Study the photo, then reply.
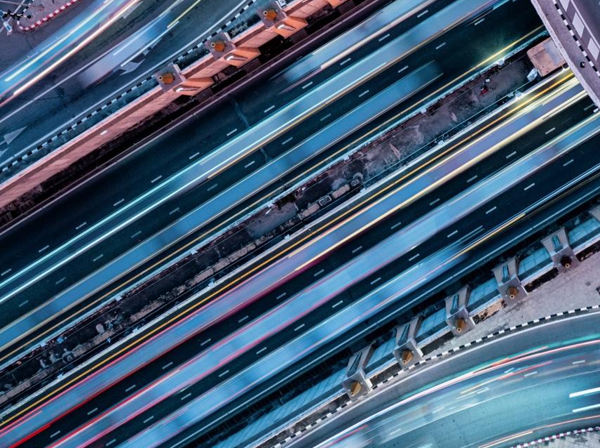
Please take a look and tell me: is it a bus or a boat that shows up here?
bus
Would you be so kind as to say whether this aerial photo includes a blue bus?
Yes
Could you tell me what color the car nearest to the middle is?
blue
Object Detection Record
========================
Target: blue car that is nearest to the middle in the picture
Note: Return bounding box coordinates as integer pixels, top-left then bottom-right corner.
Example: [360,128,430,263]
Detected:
[258,245,319,293]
